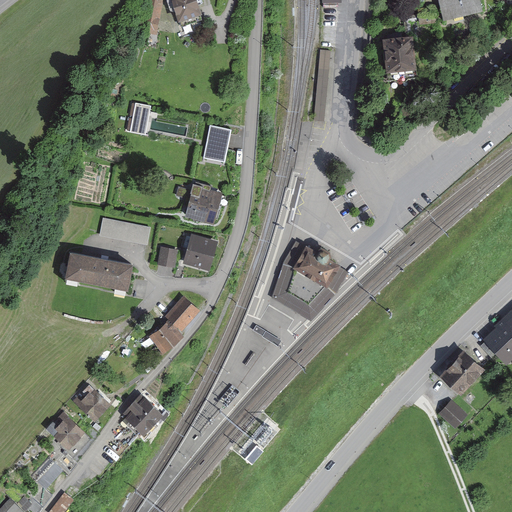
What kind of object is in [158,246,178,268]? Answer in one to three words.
building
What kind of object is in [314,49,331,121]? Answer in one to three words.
shed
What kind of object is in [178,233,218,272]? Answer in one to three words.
house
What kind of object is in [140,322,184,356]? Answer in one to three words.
house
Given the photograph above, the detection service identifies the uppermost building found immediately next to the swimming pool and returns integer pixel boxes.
[125,102,151,135]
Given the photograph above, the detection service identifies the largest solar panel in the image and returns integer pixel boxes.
[205,126,230,160]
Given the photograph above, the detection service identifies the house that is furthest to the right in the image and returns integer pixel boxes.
[482,313,512,365]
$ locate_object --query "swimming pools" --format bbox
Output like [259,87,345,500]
[150,118,187,136]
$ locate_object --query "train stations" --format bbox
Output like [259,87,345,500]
[273,241,348,320]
